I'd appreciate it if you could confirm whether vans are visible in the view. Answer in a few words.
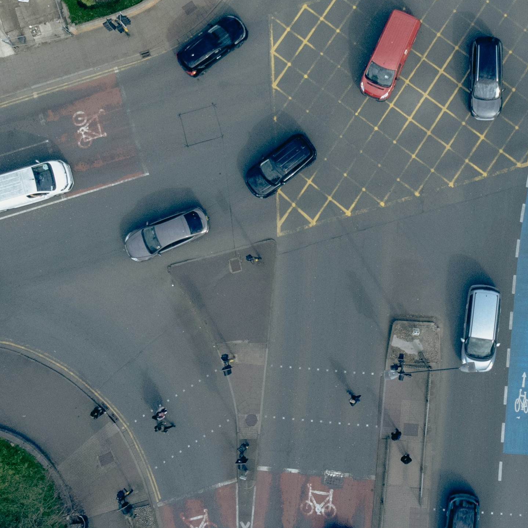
Yes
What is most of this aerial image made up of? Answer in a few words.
paved ground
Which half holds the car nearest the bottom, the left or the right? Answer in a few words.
right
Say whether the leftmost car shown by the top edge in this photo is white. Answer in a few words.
No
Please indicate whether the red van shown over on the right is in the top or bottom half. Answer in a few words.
top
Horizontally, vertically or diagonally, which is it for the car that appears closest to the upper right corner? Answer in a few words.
vertically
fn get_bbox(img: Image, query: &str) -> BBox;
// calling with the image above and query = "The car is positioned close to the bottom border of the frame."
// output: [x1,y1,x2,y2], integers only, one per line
[444,487,480,528]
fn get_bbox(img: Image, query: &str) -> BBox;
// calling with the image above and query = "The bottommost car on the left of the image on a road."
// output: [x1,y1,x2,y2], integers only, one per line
[127,209,211,263]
